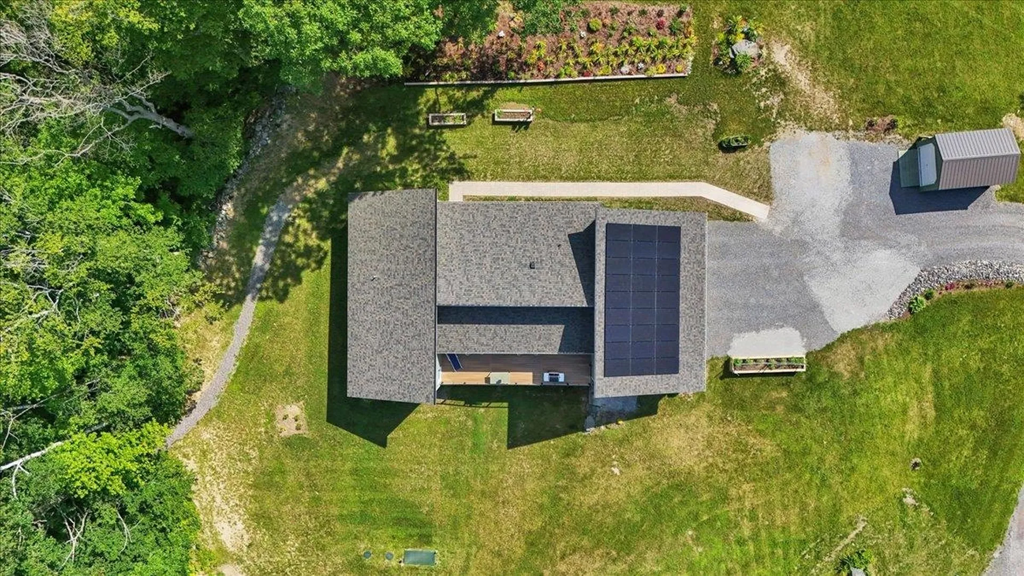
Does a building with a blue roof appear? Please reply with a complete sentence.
No, I can see no building with a blue roof in this picture.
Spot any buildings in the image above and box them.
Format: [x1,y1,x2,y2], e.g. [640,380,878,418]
[898,128,1020,192]
[347,188,708,404]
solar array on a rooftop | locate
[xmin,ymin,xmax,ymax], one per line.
[604,224,681,377]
